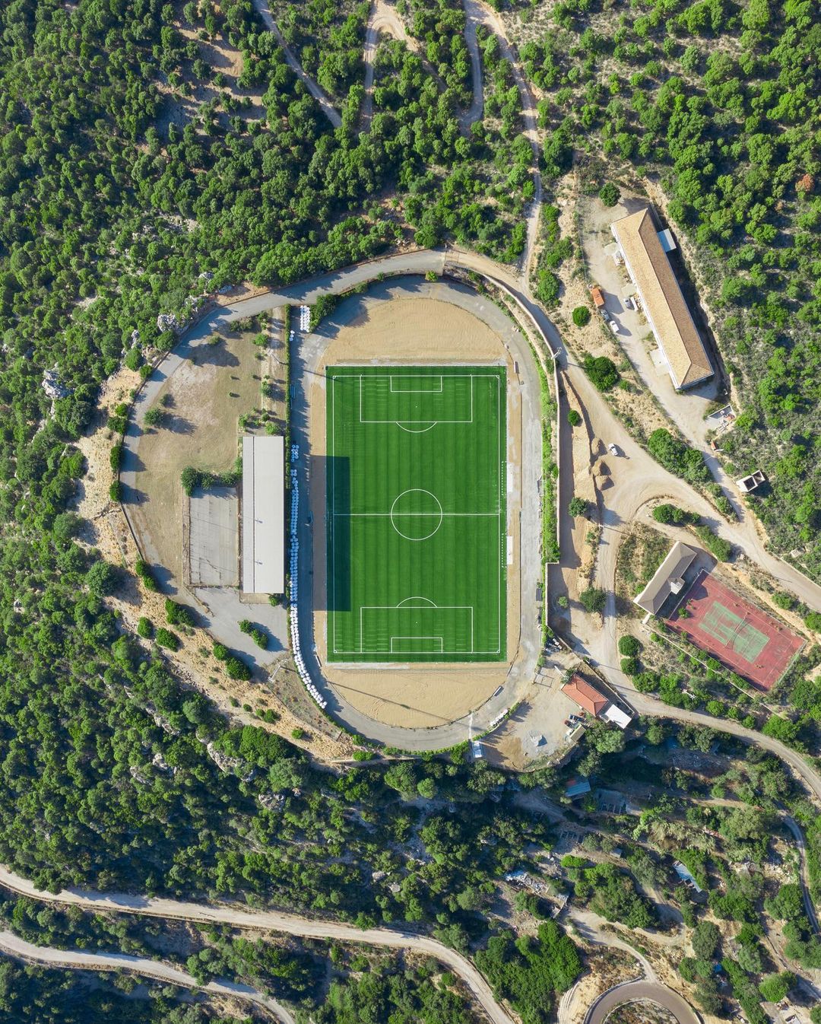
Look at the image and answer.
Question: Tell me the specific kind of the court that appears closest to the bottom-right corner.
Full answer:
The court that appears closest to the bottom-right corner can be classified as a tennis court.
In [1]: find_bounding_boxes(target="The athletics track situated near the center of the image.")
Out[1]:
[291,275,542,752]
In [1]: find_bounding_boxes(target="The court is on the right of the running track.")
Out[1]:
[666,570,811,693]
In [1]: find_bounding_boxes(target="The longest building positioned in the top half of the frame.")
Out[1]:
[612,208,715,387]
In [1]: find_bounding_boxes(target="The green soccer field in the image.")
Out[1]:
[325,365,508,663]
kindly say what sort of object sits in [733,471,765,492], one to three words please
building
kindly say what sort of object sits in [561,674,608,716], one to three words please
house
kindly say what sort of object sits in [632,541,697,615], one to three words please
building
